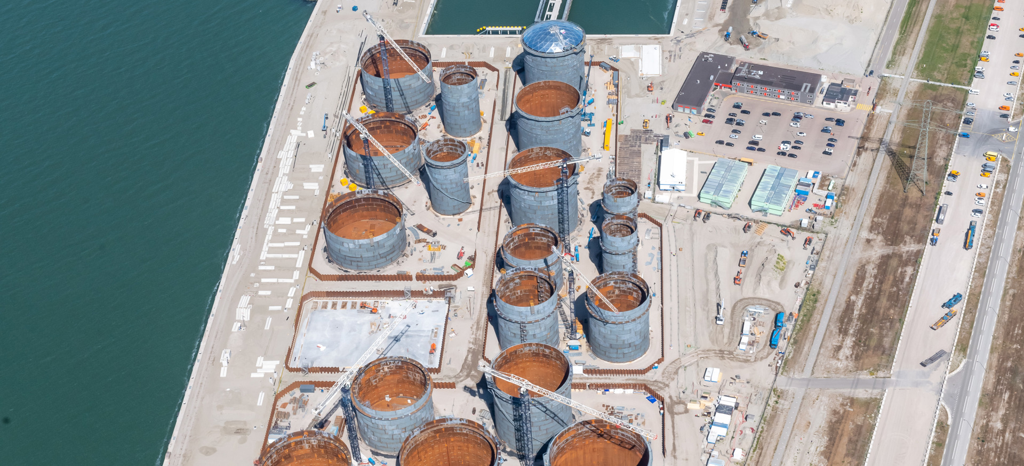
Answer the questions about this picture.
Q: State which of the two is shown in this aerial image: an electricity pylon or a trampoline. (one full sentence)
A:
This aerial view contains an electricity pylon.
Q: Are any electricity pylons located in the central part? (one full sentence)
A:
No, I can find no electricity pylon in the central part.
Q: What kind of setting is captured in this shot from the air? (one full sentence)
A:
What you see here is an industrial area.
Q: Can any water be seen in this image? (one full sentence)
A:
Yes, water can be seen from above here.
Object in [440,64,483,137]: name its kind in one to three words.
storage tank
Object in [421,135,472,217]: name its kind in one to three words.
storage tank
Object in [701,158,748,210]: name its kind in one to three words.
building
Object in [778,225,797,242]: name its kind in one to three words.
work vehicle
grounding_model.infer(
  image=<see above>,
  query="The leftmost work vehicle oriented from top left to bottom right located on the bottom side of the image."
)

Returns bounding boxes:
[359,299,381,315]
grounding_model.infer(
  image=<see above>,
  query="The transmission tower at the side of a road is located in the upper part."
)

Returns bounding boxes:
[888,100,964,196]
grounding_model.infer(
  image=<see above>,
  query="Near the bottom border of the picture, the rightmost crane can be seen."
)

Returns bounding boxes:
[474,365,656,466]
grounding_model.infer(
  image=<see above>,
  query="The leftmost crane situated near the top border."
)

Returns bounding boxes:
[360,9,430,112]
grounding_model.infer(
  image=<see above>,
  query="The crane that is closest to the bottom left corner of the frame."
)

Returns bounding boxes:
[315,298,423,466]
